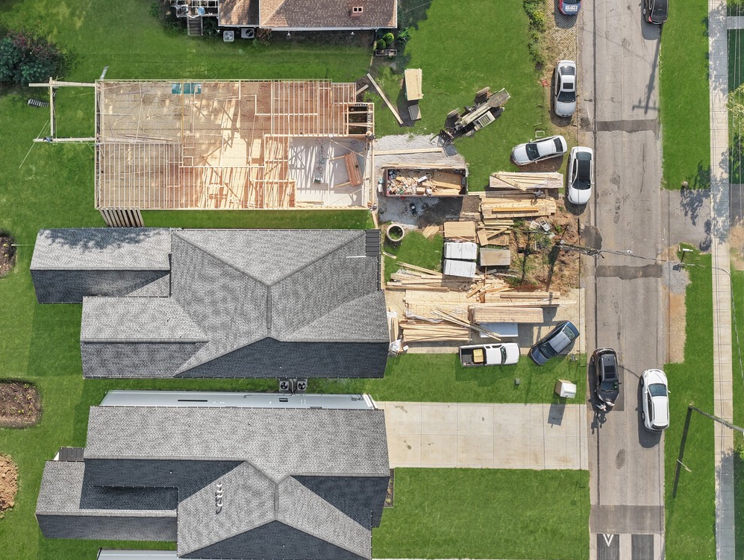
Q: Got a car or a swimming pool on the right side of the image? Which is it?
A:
car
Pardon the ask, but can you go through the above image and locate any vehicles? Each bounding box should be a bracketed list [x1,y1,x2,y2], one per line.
[636,368,672,433]
[588,345,624,411]
[525,316,581,368]
[555,0,584,18]
[562,145,596,205]
[507,134,569,167]
[426,86,517,153]
[549,58,581,118]
[455,341,520,370]
[637,0,669,24]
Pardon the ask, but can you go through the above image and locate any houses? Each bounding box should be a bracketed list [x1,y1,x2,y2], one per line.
[35,390,389,560]
[94,79,374,210]
[29,226,389,379]
[217,0,398,35]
